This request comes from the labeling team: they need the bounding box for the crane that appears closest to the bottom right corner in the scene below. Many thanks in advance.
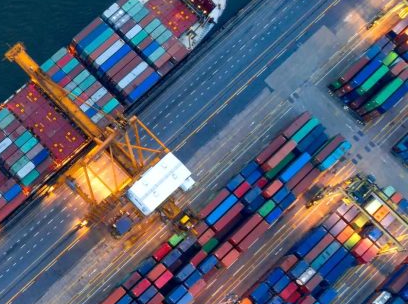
[307,171,408,259]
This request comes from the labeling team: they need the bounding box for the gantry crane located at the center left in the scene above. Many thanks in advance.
[3,35,198,232]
